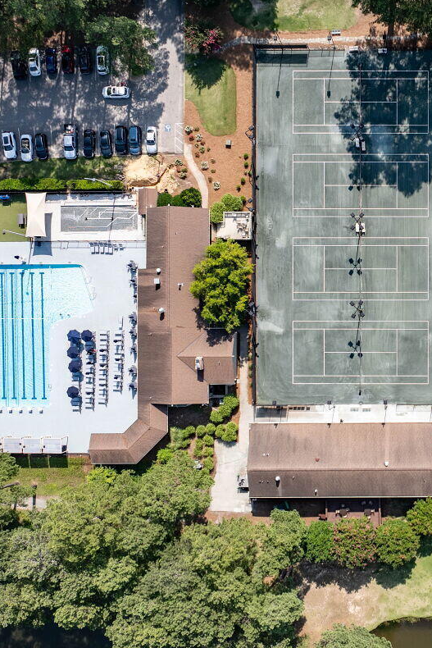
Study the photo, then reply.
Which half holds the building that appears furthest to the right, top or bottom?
bottom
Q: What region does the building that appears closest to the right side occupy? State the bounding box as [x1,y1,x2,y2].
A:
[246,422,432,499]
